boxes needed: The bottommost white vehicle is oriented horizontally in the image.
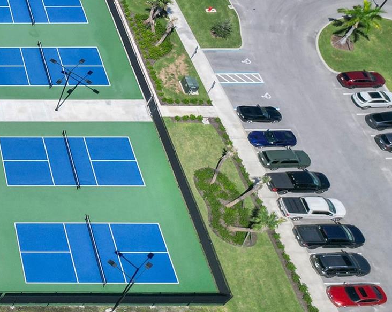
[277,191,351,219]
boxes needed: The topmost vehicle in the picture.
[336,66,390,89]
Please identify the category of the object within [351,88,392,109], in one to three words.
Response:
car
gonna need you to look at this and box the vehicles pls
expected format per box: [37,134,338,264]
[277,191,351,219]
[265,167,335,192]
[290,219,370,247]
[336,66,390,89]
[233,100,285,122]
[365,110,392,130]
[247,125,303,147]
[375,129,392,152]
[351,88,392,109]
[326,279,392,307]
[258,144,316,169]
[310,249,376,277]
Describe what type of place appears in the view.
sports ground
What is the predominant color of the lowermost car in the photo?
red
